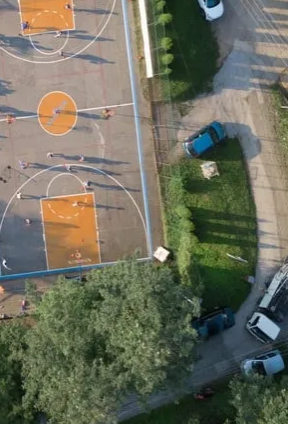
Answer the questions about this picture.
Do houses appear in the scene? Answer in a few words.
No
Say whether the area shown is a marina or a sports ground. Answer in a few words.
sports ground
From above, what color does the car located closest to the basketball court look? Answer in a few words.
blue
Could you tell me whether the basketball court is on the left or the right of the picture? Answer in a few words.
left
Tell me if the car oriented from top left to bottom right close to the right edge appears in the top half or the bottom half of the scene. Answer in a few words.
bottom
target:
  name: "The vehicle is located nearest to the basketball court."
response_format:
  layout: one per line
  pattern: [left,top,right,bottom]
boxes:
[181,121,233,157]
